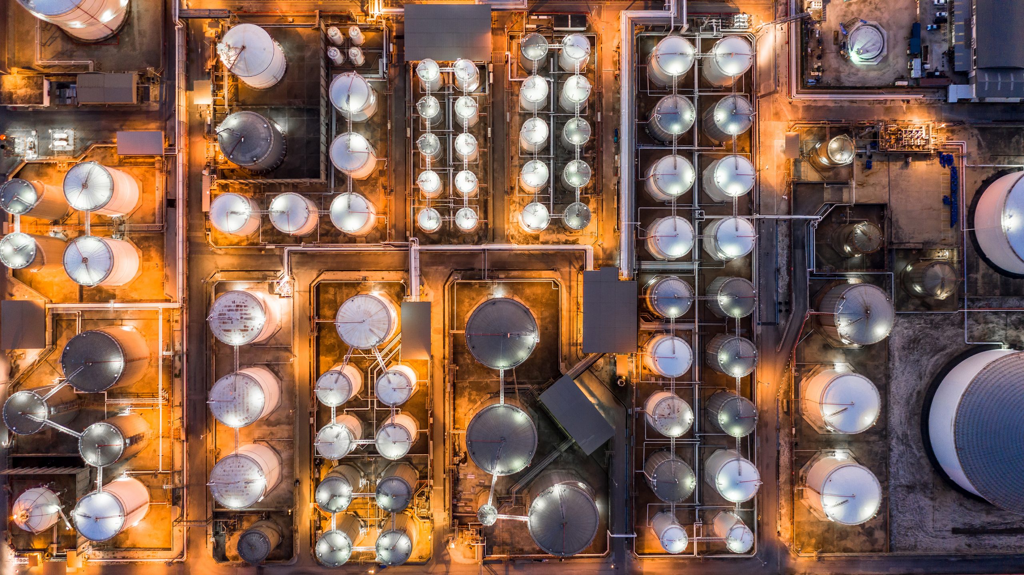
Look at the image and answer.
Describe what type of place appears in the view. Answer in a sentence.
The picture captures an industrial area.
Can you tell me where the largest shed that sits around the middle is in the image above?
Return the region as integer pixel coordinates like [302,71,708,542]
[582,267,637,353]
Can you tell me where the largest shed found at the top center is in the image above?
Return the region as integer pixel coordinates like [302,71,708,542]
[404,4,491,68]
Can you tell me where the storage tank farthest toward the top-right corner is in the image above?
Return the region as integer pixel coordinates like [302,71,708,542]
[842,22,885,65]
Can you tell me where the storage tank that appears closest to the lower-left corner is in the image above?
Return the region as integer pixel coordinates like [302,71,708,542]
[8,482,75,534]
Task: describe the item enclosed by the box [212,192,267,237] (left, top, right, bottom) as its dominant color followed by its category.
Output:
white storage tank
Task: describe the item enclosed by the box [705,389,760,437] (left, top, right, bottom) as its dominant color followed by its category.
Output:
gray storage tank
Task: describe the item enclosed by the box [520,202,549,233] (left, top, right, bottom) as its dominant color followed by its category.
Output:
white storage tank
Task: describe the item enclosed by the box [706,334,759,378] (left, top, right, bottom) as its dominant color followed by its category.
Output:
gray storage tank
